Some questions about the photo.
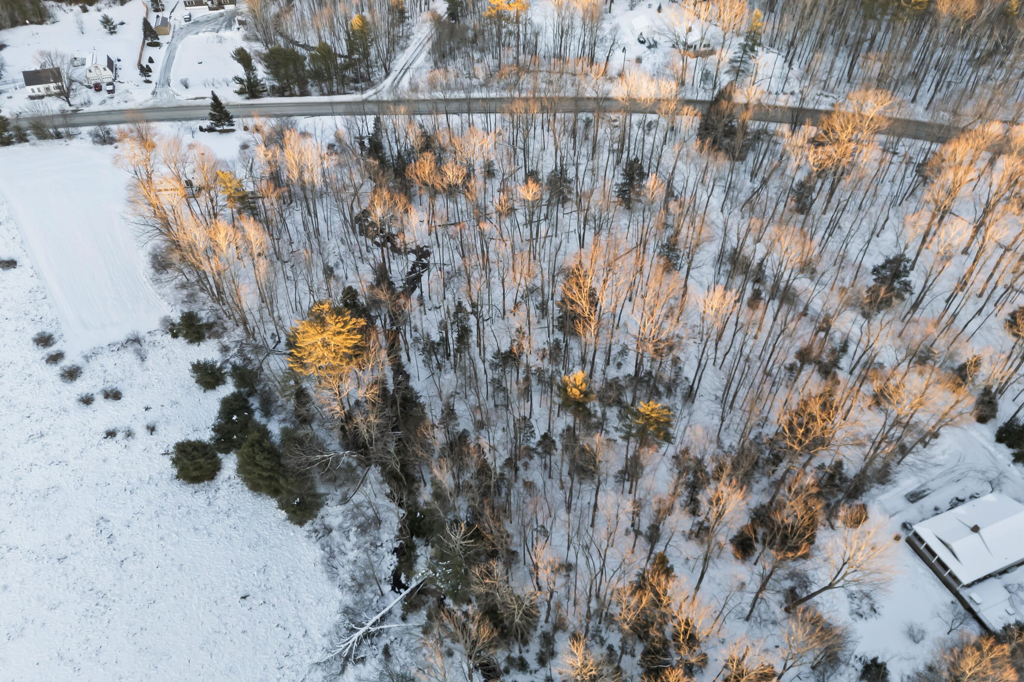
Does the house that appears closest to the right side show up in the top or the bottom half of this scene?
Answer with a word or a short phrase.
bottom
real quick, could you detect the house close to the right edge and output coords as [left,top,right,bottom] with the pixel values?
[906,485,1024,638]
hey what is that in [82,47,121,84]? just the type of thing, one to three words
barn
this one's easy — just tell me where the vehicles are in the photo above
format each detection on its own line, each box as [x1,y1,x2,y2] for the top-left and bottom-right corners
[104,81,115,93]
[637,33,649,43]
[183,12,192,22]
[91,81,102,92]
